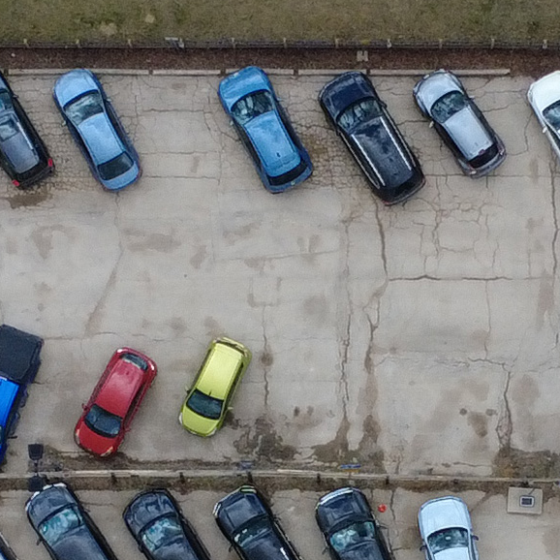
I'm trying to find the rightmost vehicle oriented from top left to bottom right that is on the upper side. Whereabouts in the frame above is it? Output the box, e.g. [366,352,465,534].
[418,68,505,178]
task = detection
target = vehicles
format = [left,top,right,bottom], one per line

[76,348,159,455]
[212,485,302,560]
[55,67,144,195]
[0,324,48,469]
[418,495,482,560]
[418,68,505,178]
[0,66,57,191]
[124,488,214,560]
[220,67,311,195]
[177,337,251,436]
[26,484,122,560]
[320,69,425,209]
[315,488,396,560]
[530,69,560,161]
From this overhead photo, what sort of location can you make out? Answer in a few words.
parking lot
